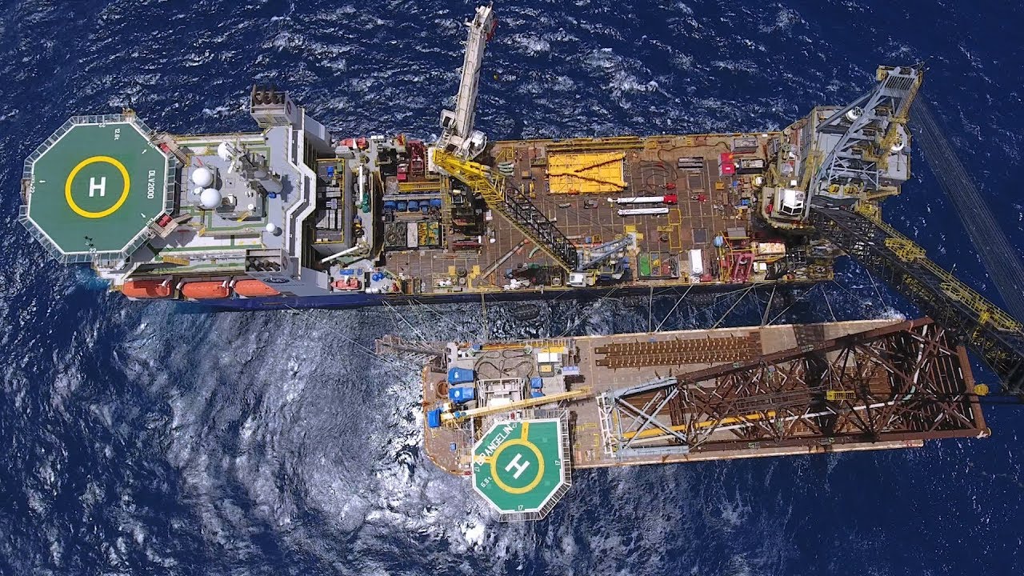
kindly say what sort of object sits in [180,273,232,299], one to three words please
boat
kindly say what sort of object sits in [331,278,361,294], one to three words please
boat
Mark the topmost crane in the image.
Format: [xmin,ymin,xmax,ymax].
[426,6,494,184]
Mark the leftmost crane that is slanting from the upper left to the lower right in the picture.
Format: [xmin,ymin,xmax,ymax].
[436,148,637,285]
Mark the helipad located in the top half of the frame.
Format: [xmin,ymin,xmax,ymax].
[18,108,183,263]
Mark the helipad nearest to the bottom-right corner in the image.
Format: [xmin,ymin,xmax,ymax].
[462,400,570,520]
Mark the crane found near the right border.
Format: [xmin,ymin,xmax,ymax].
[754,55,1024,400]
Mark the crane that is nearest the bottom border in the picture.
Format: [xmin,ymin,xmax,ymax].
[437,386,594,438]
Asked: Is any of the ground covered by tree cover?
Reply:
No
